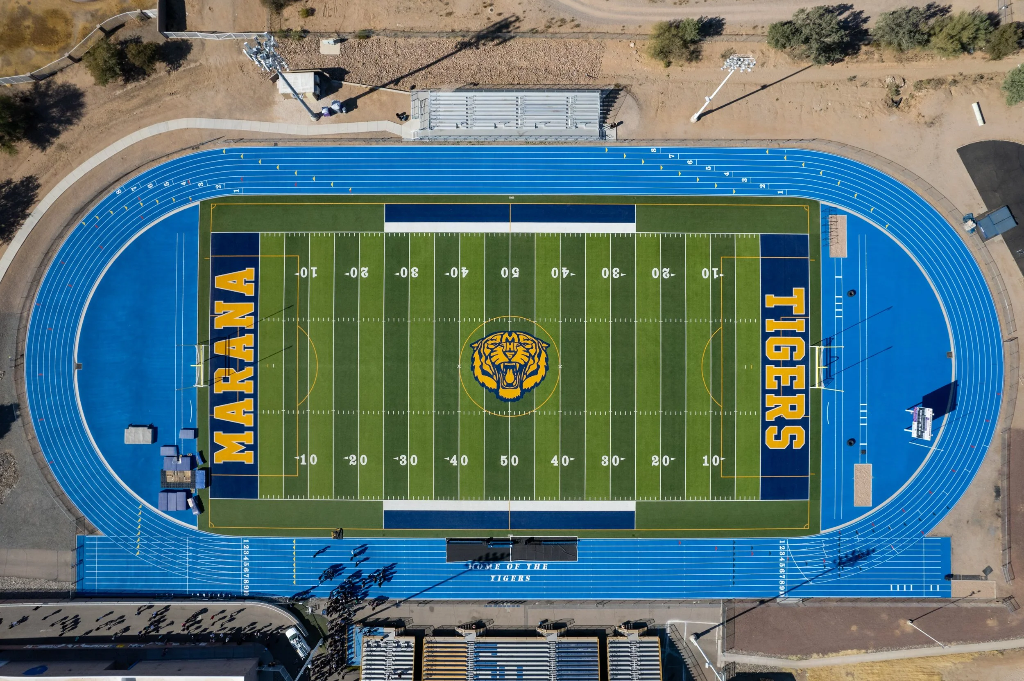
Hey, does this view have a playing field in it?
Yes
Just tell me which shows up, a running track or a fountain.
running track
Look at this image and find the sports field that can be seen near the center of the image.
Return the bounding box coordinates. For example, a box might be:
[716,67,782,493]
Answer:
[199,195,821,539]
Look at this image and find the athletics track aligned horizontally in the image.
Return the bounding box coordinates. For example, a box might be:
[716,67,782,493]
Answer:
[24,146,1005,601]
